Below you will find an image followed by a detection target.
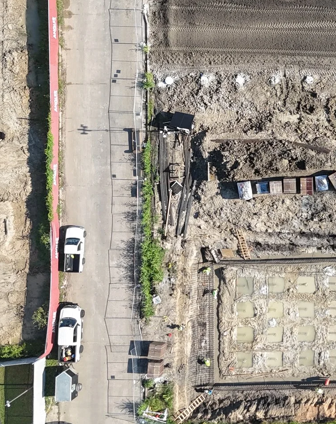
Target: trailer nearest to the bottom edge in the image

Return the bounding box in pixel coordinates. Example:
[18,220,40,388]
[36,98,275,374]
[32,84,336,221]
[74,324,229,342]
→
[53,362,83,409]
